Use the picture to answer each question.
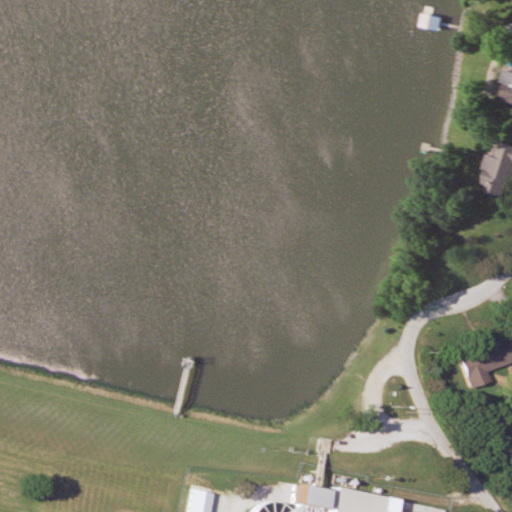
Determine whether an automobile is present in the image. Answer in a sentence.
No, no automobile is visible in the view.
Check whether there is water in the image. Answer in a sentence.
Yes, some water is visible.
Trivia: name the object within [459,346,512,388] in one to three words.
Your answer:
house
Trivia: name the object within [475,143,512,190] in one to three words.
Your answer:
house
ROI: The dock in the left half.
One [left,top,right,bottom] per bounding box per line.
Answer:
[174,358,193,414]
